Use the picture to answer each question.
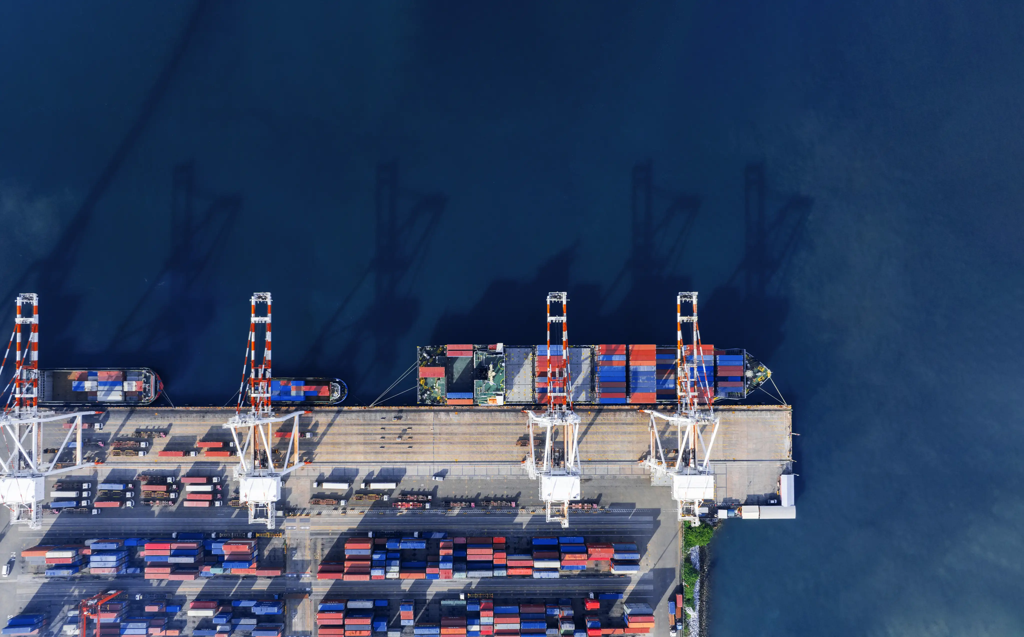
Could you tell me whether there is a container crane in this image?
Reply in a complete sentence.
Yes, I can see a container crane in this picture.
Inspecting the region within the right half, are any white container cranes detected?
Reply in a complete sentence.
Yes, you'll find a white container crane within the right half.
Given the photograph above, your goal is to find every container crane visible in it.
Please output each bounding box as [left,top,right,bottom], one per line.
[518,292,588,529]
[221,293,316,530]
[80,587,127,637]
[631,291,730,528]
[0,294,113,531]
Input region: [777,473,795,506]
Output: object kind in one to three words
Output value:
shed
